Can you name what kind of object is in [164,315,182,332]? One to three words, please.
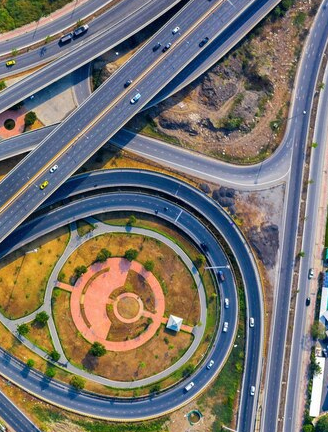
gazebo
